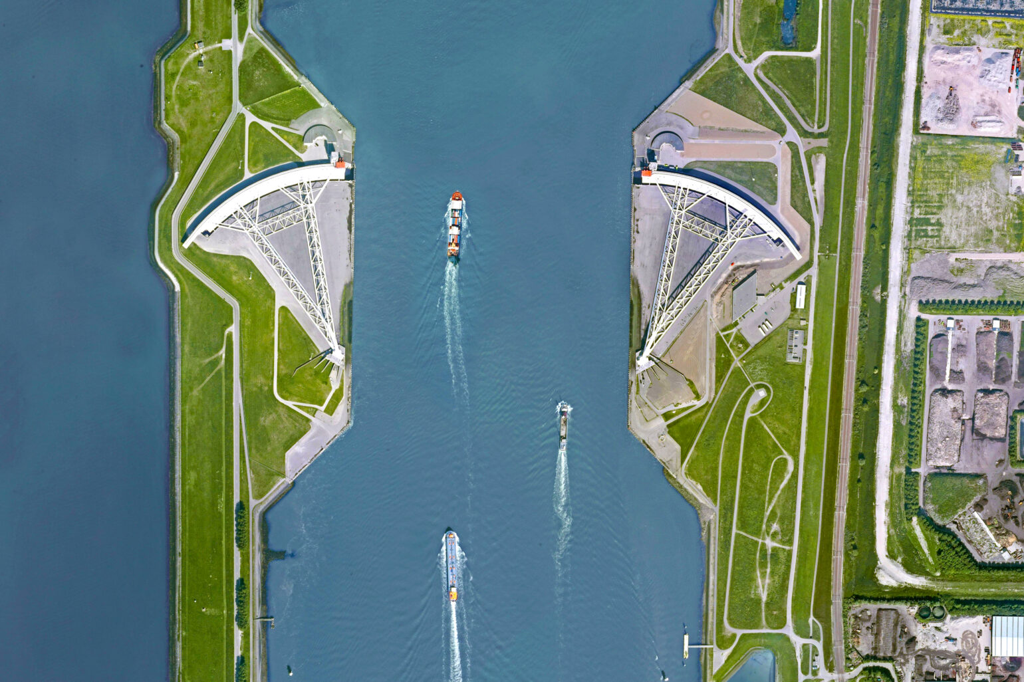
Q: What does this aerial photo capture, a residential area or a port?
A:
port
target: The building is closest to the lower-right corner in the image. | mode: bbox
[993,617,1024,657]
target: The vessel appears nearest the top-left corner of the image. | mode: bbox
[448,192,462,256]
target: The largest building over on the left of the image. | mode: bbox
[303,124,335,143]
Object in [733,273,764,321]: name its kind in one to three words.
building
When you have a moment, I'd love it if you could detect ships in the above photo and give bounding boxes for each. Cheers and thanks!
[448,192,462,256]
[447,531,458,601]
[560,405,567,451]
